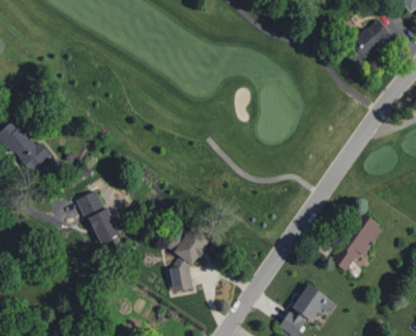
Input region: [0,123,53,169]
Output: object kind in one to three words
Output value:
house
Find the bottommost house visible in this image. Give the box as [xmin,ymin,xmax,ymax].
[282,284,337,336]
